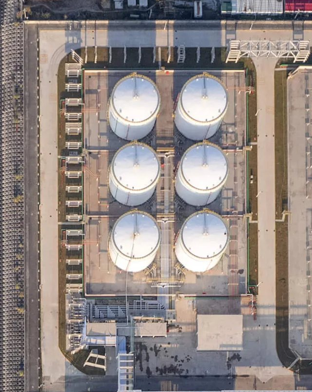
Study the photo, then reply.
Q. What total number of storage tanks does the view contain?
6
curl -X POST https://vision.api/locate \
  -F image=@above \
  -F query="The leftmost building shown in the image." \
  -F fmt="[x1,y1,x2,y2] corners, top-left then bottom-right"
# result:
[87,319,116,337]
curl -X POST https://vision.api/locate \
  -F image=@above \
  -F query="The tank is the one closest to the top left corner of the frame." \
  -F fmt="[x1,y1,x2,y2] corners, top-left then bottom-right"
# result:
[108,69,162,141]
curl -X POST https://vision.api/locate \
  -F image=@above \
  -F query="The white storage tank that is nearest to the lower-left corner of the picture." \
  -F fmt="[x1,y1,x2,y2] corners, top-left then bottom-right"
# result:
[108,205,162,272]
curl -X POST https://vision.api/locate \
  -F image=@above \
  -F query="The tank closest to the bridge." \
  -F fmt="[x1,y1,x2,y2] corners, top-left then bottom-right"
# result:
[175,69,231,141]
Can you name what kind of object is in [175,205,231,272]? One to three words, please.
storage tank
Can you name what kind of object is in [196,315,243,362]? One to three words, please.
building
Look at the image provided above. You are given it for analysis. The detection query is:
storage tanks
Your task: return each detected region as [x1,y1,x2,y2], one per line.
[175,69,231,141]
[108,69,162,141]
[108,205,162,272]
[175,205,231,272]
[108,137,162,207]
[175,137,231,207]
